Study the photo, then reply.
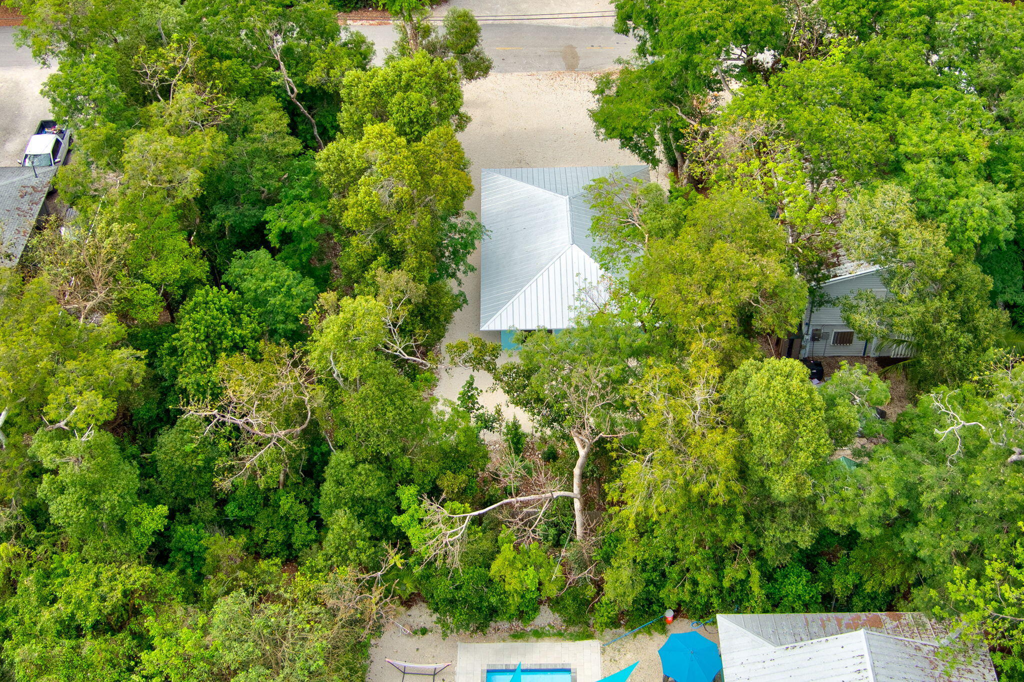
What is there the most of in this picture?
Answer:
trees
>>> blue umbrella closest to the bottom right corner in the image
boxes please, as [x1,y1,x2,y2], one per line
[656,632,721,682]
